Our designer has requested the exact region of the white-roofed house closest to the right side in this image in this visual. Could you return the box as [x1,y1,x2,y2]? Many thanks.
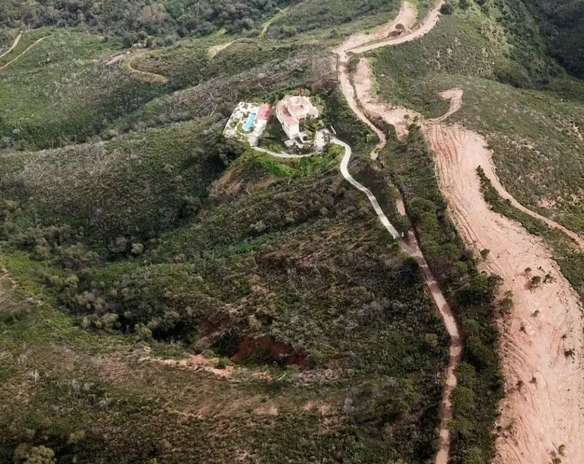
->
[277,96,319,133]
